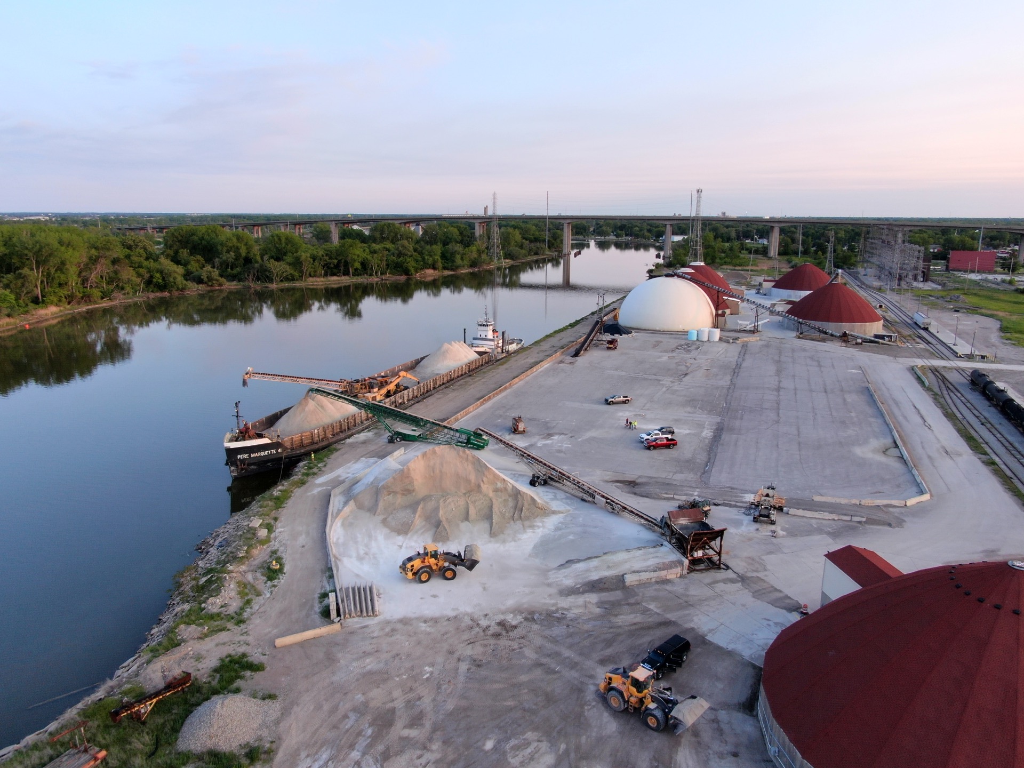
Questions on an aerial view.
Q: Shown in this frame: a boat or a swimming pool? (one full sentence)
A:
The one in the frame is a boat.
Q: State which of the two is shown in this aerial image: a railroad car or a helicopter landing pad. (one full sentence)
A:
Looking from above, you can make out a railroad car.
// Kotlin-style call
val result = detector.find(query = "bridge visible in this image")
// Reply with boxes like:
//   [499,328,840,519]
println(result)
[96,215,1024,261]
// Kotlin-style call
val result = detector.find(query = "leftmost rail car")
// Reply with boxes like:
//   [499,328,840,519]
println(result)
[917,315,933,332]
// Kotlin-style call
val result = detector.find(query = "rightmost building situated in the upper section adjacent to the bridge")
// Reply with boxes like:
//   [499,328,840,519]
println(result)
[946,250,1000,272]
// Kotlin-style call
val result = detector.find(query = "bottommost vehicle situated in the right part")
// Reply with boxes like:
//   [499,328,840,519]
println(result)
[593,658,719,736]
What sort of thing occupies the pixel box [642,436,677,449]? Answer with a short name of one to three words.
vehicle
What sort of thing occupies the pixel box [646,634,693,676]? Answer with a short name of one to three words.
truck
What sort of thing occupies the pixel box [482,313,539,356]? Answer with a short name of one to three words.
boat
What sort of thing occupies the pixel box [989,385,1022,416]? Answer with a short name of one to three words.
rail car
